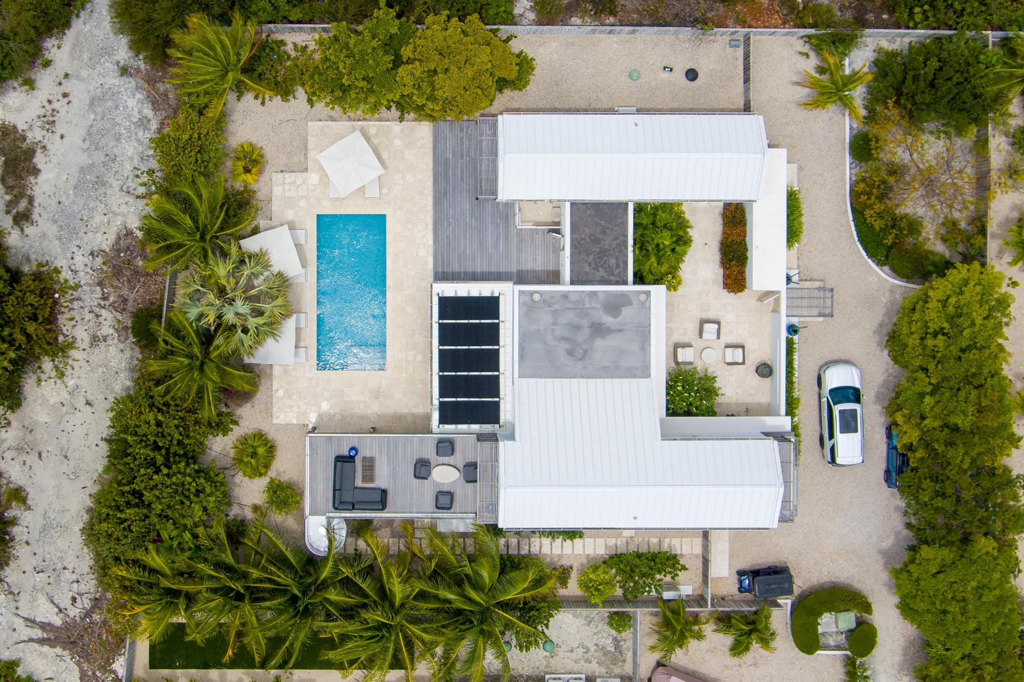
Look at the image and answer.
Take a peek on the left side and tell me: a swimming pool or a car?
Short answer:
swimming pool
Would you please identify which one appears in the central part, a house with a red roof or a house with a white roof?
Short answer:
house with a white roof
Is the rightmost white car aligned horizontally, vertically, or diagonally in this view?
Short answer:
vertically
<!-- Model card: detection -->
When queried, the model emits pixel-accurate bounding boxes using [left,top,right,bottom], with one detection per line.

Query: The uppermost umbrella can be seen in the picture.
[317,130,385,197]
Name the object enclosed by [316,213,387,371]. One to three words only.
swimming pool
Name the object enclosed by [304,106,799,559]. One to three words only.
house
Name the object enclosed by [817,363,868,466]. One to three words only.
car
